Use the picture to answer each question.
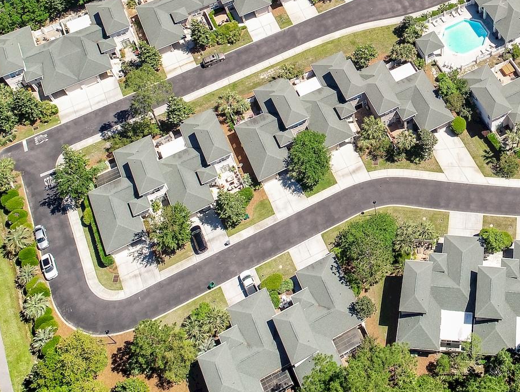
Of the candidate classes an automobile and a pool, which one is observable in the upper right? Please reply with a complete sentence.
The feature located in the upper right is a pool.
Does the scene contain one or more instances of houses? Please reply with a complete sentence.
Yes, this view includes a house.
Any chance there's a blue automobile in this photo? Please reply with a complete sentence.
No, I can see no blue automobile in this picture.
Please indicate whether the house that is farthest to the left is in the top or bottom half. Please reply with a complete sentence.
It is in the top half that the house that is farthest to the left appears.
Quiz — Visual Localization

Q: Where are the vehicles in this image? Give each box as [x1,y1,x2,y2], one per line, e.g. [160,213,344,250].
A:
[38,251,58,282]
[200,51,226,66]
[33,223,50,251]
[240,265,259,297]
[189,224,207,255]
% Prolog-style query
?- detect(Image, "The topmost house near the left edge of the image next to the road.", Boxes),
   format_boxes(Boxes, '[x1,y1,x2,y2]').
[0,0,142,118]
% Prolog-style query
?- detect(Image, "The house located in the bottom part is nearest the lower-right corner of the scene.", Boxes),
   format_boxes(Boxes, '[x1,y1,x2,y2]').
[398,226,520,358]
